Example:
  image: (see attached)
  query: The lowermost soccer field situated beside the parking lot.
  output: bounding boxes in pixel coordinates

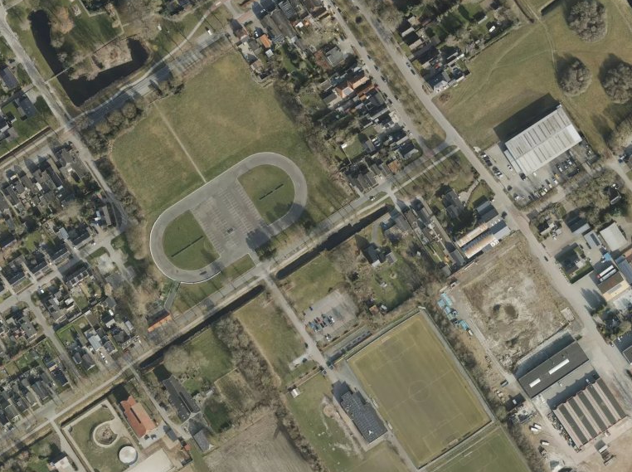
[348,311,491,466]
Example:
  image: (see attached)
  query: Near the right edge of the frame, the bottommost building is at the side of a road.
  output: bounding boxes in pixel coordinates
[555,378,629,450]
